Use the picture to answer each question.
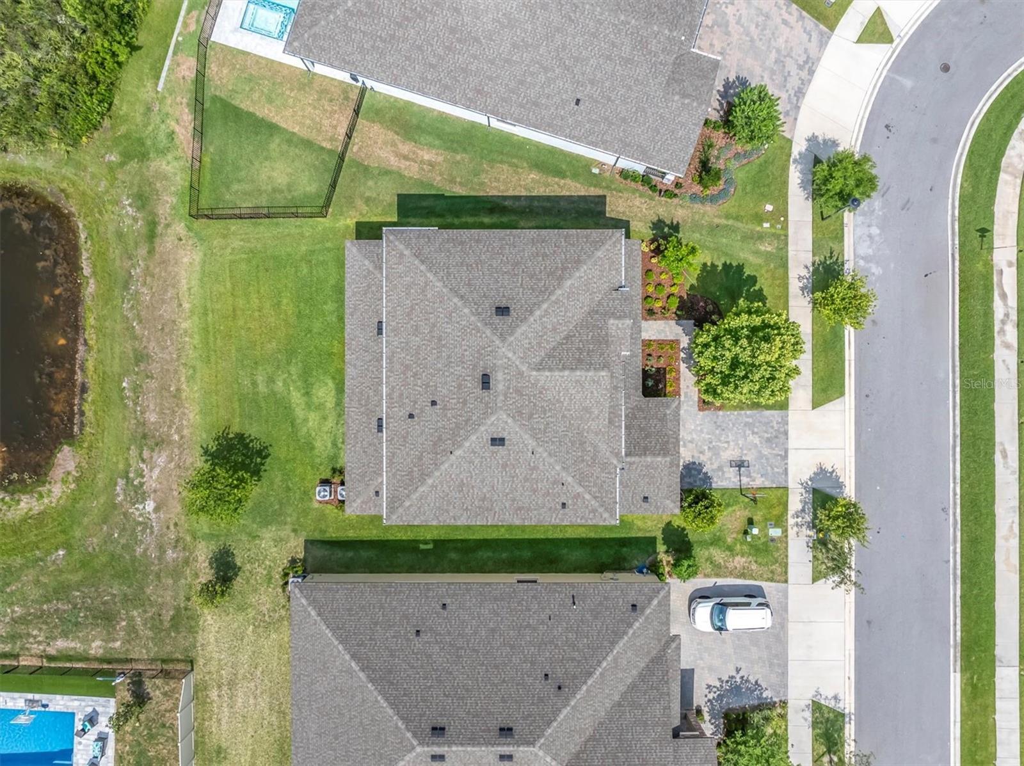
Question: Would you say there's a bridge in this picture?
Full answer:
No, the photo shows no bridge.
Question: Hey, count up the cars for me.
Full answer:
Altogether the scene contains 1 car.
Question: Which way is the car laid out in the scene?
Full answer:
The car has been laid out from left to right relative to the frame.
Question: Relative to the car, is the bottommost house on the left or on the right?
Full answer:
Looking at the picture, you'll find the bottommost house to the left of the car.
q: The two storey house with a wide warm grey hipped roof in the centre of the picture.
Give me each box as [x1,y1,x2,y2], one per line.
[344,226,681,526]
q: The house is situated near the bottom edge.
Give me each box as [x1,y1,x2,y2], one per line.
[288,573,717,766]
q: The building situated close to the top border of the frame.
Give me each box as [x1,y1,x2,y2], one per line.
[283,0,719,181]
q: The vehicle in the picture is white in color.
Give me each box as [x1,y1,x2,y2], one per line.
[690,596,770,635]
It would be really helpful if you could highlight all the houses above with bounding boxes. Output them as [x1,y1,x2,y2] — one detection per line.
[283,0,719,181]
[288,573,717,766]
[344,226,681,526]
